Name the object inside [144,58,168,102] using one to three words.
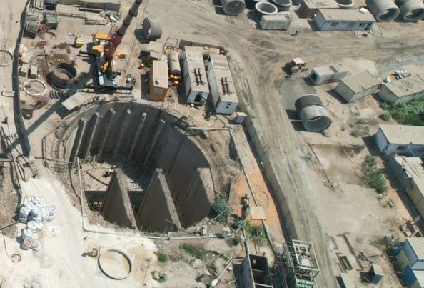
building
